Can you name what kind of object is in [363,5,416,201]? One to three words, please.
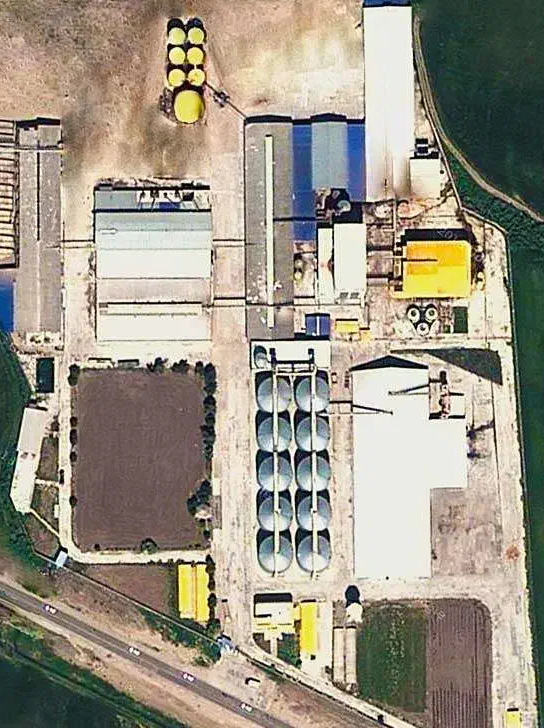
building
